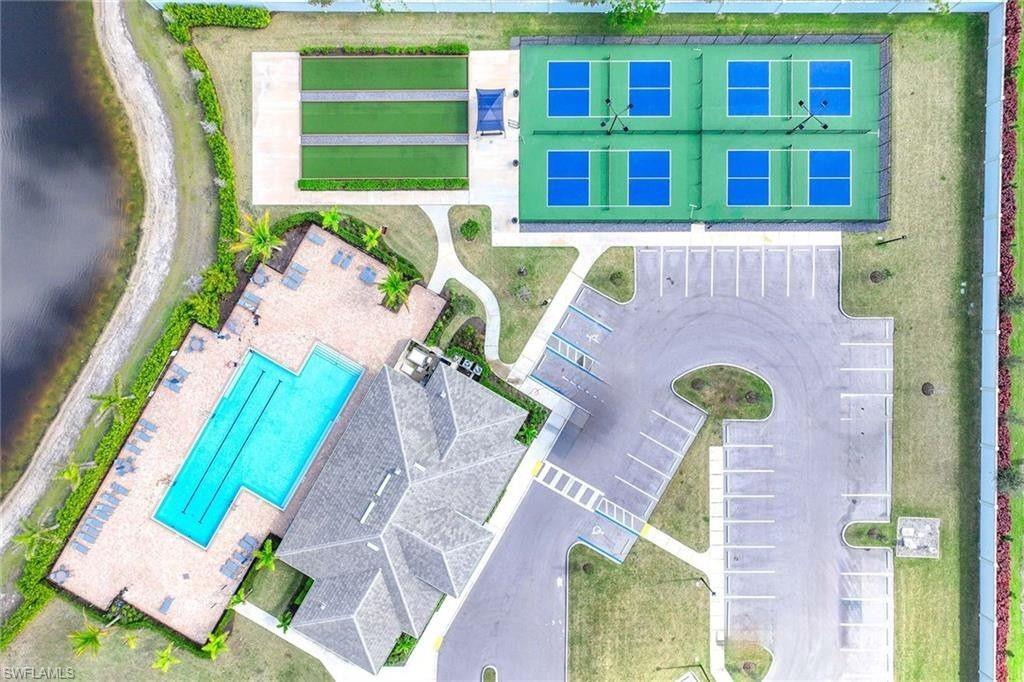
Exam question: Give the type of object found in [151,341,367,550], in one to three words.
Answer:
swimming pool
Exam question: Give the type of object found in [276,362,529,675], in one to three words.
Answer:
building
